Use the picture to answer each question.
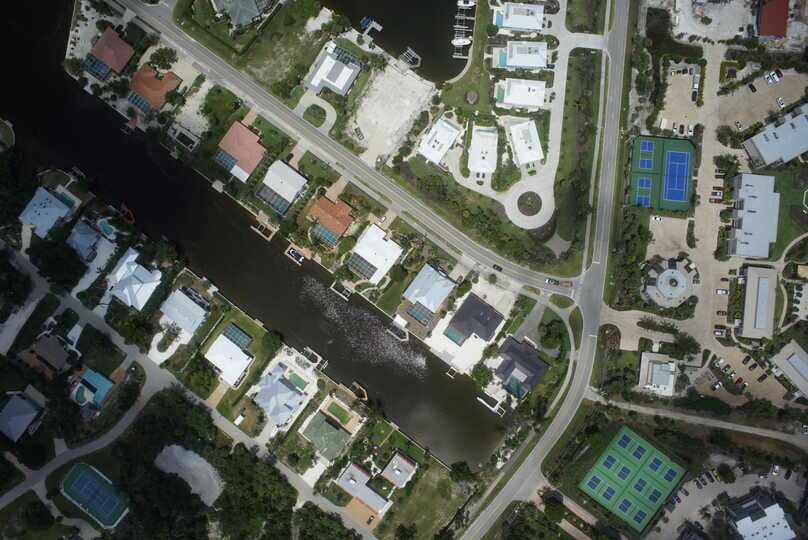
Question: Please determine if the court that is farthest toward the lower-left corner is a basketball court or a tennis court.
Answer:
tennis court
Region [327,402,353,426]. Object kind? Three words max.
swimming pool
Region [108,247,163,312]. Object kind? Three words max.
house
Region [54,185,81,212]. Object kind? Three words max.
swimming pool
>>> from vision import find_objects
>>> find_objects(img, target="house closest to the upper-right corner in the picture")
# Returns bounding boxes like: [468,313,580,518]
[754,0,789,37]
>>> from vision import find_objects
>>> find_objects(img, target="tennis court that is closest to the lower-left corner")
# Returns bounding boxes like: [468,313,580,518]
[63,463,127,527]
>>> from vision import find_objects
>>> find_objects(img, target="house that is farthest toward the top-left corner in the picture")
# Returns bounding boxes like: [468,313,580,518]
[82,28,134,81]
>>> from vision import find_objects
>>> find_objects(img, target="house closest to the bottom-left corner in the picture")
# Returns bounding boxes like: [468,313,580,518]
[0,384,49,442]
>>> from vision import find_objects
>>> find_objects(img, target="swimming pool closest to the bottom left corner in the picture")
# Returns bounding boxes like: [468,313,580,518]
[72,383,94,406]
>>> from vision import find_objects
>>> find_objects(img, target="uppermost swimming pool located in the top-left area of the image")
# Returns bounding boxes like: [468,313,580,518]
[82,53,110,80]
